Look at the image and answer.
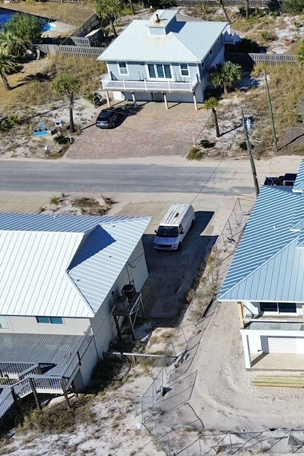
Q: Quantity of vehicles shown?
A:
3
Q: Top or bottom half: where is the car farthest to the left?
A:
top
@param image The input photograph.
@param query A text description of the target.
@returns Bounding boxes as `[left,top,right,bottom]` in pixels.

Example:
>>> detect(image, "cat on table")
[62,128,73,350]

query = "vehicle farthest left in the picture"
[98,101,135,127]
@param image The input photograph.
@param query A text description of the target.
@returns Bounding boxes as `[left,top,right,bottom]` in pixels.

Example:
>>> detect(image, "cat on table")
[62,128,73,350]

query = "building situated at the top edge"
[95,11,244,110]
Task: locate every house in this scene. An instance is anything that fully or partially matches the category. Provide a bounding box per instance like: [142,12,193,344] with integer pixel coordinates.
[0,214,154,417]
[216,158,304,374]
[95,11,244,110]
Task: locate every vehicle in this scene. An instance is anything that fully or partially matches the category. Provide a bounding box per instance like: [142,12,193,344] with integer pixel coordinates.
[98,101,135,127]
[258,168,299,192]
[151,192,204,246]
